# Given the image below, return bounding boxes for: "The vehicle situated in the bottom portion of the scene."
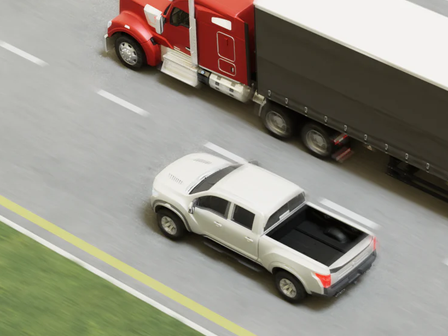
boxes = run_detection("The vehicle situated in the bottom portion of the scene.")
[147,157,381,304]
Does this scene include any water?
No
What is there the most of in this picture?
paved ground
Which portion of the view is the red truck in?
top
